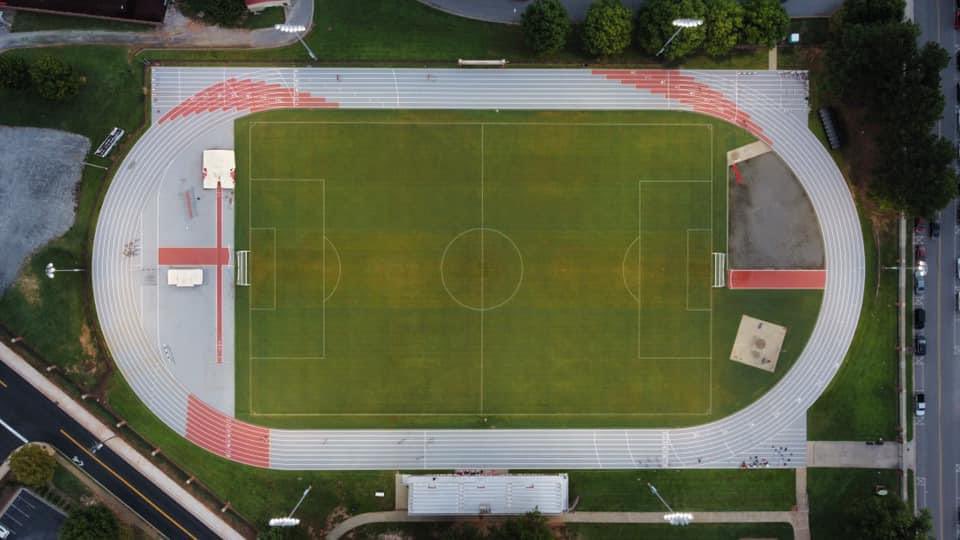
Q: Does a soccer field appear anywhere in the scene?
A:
Yes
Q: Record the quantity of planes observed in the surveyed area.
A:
0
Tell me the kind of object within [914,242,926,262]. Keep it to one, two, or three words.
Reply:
vehicle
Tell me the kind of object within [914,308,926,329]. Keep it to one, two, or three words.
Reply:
vehicle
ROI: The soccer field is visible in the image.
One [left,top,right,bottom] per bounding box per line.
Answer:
[235,110,826,428]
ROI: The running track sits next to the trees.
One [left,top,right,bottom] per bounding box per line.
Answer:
[94,67,868,472]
